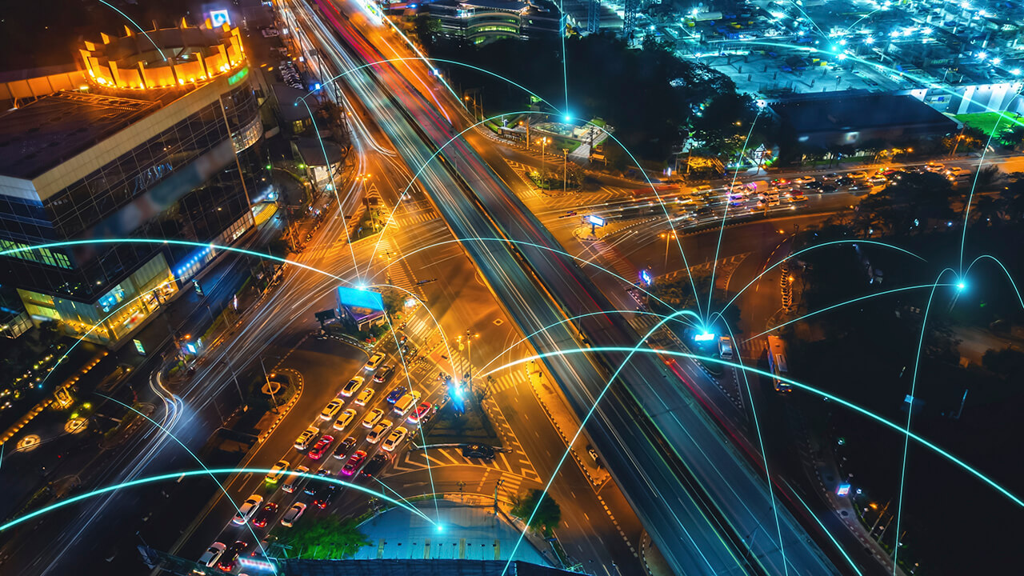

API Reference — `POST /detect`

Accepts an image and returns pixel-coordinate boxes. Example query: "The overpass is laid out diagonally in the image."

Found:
[296,0,849,576]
